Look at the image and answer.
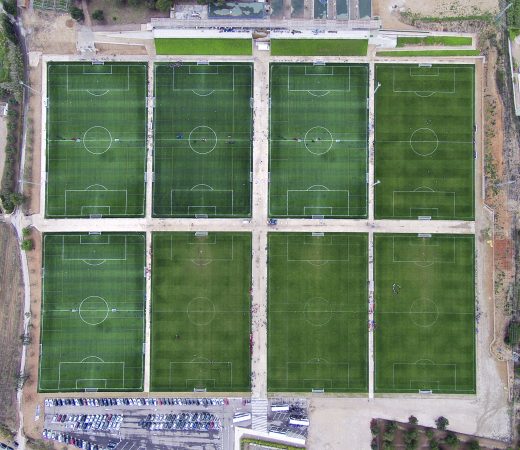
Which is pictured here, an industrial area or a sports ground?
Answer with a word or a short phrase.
sports ground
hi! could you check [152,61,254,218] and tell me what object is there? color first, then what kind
green soccer field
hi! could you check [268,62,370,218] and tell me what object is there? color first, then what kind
green soccer field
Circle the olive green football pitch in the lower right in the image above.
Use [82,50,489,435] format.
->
[373,233,476,394]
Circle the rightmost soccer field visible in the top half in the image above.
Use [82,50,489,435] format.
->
[375,63,475,219]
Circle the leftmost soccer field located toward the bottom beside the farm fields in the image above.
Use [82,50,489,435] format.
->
[37,232,146,393]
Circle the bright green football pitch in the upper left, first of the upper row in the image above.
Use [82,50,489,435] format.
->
[45,61,148,218]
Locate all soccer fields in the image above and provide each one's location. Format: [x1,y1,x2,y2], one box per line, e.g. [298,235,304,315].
[152,61,254,218]
[267,232,369,393]
[375,63,475,219]
[45,61,148,218]
[150,232,252,392]
[373,233,476,394]
[268,62,370,218]
[37,232,146,393]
